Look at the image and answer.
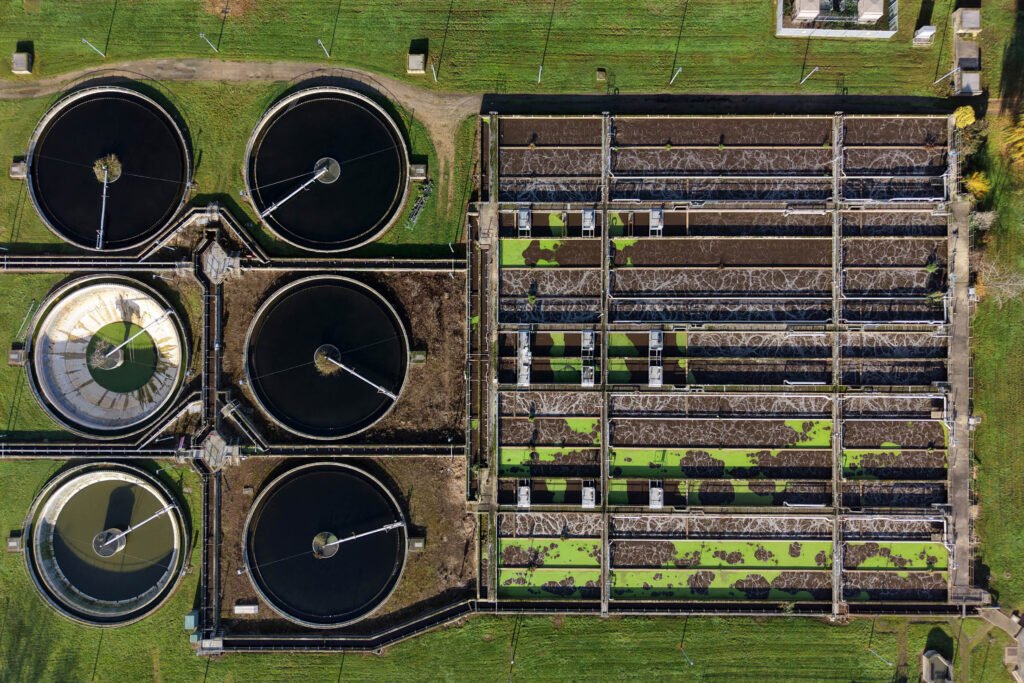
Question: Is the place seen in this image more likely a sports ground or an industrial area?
industrial area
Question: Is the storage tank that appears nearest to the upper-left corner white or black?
black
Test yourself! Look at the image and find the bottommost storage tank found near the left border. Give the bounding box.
[23,462,190,628]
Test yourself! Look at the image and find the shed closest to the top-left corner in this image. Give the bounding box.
[12,53,31,72]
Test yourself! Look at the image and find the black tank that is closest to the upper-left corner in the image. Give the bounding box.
[26,86,192,251]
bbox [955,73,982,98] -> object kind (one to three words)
building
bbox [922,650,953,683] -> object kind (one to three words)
building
